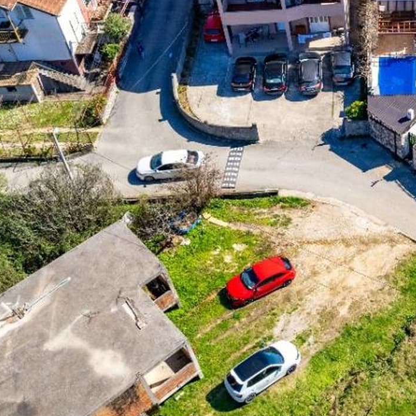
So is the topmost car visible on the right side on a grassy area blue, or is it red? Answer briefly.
red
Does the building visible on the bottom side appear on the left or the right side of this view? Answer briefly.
left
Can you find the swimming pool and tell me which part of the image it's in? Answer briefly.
top right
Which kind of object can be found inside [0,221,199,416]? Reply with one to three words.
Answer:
building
